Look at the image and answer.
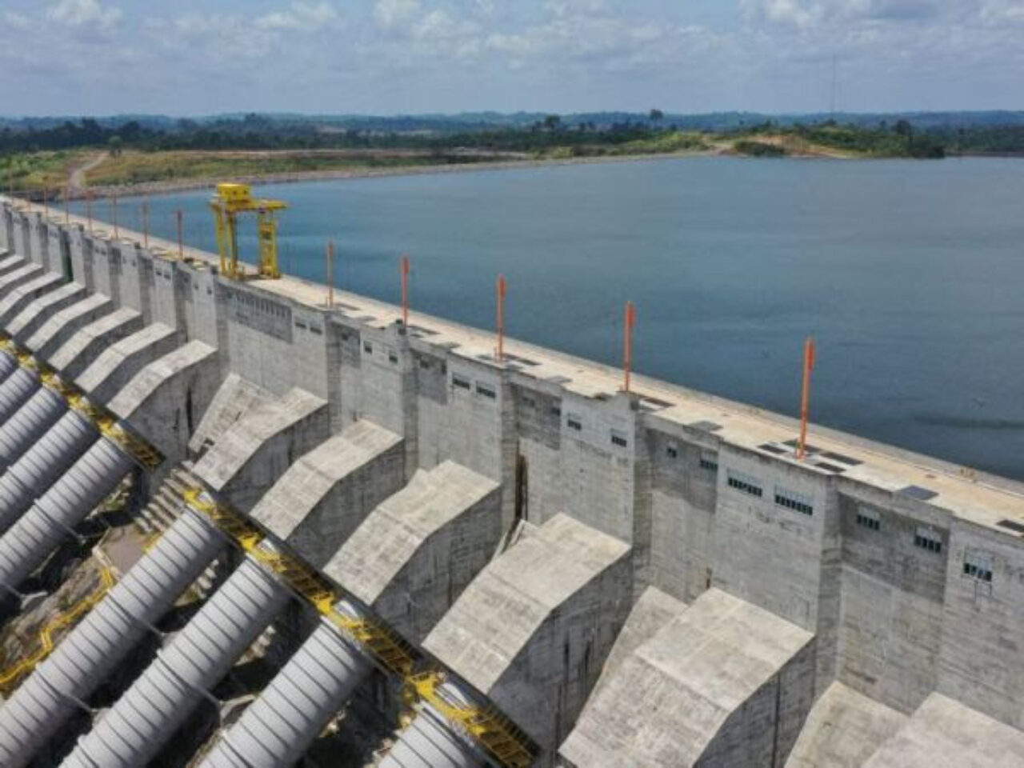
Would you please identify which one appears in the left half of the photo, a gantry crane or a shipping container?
gantry crane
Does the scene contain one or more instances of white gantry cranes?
No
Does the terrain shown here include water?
Yes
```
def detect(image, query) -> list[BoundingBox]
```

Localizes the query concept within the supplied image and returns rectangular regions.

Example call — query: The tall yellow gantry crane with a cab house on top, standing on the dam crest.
[201,184,293,277]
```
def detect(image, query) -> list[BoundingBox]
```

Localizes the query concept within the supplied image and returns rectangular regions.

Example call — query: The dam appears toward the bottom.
[0,193,1024,768]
